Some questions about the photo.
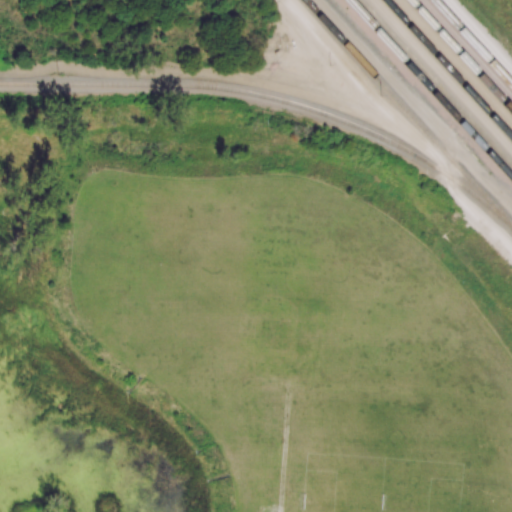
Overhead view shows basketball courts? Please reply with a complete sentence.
No, there is no basketball court in the image.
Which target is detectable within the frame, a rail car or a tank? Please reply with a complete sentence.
It is a rail car that can be seen here.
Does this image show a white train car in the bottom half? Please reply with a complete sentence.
No, I see no white train car in the bottom half.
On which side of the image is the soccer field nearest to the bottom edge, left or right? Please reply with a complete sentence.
The soccer field nearest to the bottom edge appears in the right half of the scene.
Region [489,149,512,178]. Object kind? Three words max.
rail car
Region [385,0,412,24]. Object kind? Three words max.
rail car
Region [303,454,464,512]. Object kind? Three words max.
soccer field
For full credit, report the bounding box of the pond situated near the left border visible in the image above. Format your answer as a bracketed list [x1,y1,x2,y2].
[0,342,186,512]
